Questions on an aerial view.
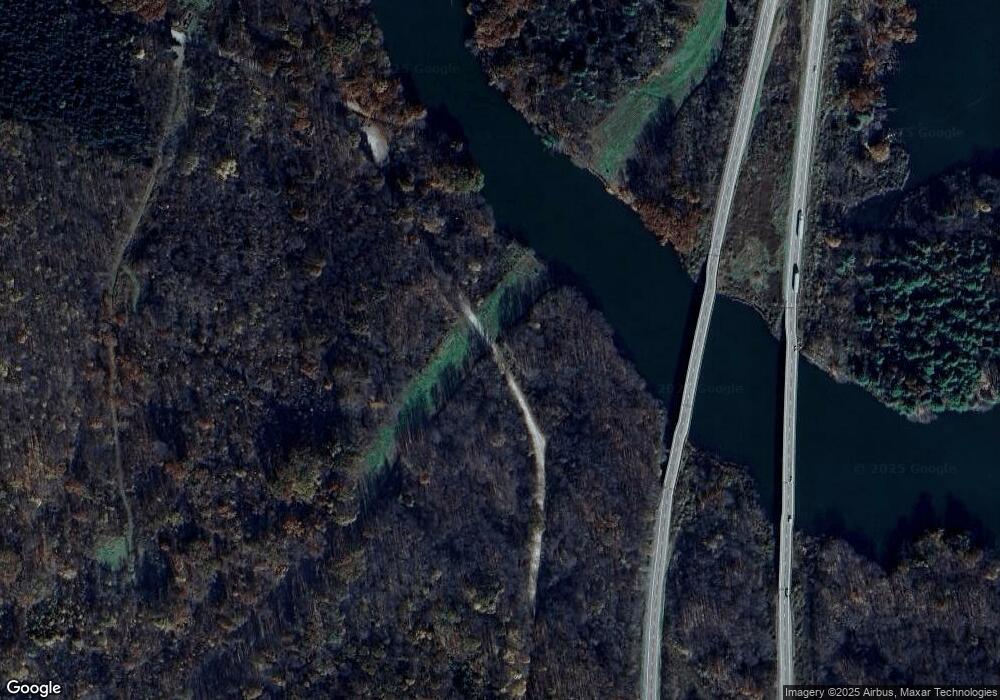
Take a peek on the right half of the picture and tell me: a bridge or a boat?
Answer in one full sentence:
The feature located on the right half of the picture is a bridge.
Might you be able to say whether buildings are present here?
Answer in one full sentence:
No, no building can be seen from above.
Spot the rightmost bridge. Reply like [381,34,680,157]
[778,307,798,589]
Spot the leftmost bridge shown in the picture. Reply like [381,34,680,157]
[660,255,722,504]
